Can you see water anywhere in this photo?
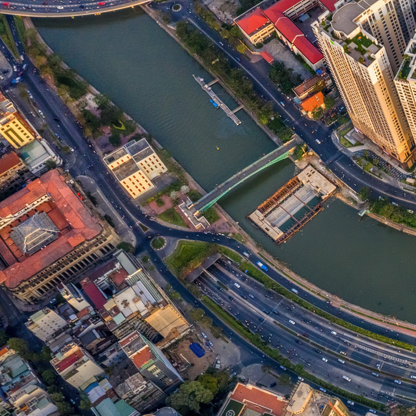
Yes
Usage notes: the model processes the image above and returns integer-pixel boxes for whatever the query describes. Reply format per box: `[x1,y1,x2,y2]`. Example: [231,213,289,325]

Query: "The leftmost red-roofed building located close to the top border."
[236,8,280,49]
